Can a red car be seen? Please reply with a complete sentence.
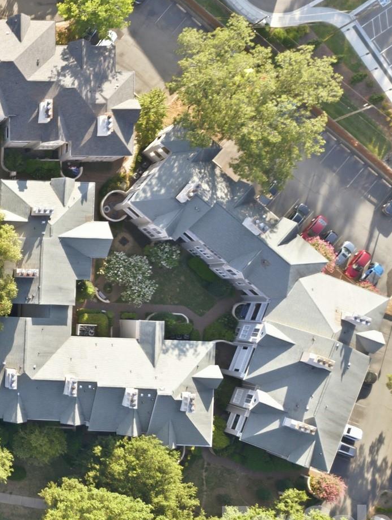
Yes, the frame does contain a red car.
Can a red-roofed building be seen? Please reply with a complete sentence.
No, no red-roofed building can be seen from above.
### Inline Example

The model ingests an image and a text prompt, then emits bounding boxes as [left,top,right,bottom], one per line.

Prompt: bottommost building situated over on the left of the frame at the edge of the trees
[0,175,227,449]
